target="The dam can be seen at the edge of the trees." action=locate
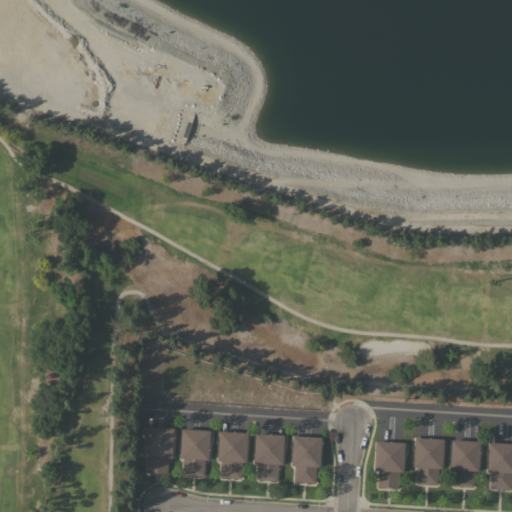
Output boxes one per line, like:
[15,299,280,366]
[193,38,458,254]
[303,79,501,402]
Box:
[92,0,512,217]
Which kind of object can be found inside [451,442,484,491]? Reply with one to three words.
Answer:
house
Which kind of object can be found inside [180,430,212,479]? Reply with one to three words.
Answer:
house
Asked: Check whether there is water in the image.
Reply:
Yes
